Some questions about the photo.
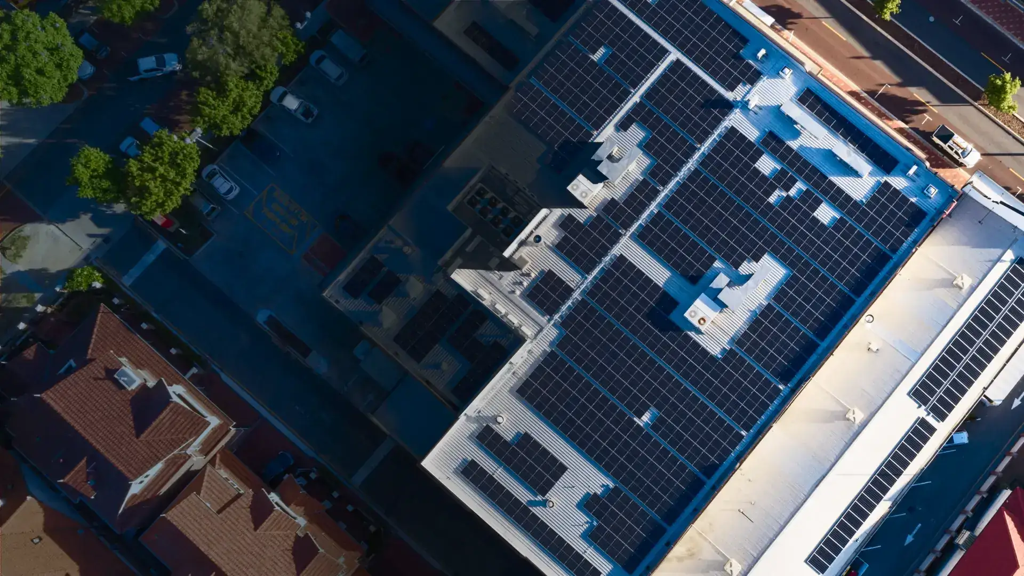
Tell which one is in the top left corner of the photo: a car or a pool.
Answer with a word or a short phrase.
car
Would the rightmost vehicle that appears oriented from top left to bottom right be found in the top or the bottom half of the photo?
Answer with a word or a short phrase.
top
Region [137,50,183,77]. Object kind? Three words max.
car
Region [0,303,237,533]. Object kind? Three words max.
house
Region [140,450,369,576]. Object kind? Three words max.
house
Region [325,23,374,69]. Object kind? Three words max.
vehicle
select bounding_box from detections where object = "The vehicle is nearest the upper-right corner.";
[931,122,983,166]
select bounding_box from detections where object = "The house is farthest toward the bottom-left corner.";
[0,460,148,576]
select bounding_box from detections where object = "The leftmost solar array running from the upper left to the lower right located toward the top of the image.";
[466,18,522,68]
